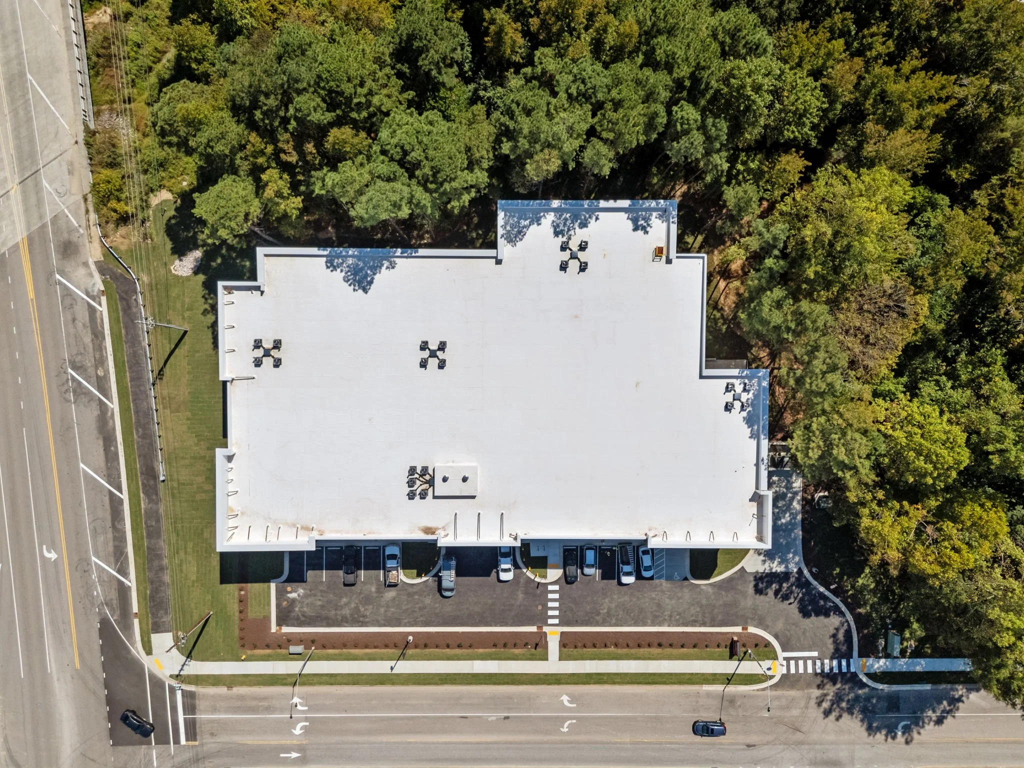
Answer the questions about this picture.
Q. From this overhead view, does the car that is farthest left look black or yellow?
black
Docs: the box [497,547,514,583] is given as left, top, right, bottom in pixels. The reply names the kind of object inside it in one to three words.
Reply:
vehicle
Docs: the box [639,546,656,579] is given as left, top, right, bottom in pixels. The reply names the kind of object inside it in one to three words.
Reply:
car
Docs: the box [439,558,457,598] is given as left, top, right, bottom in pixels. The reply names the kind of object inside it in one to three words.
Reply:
vehicle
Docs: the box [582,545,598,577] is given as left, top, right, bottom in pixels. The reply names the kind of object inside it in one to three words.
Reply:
car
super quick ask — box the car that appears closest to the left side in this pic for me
[117,712,153,739]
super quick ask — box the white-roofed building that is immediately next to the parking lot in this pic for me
[216,199,772,551]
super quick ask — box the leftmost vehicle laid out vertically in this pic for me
[340,546,357,586]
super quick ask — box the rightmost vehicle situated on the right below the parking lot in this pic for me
[693,722,728,741]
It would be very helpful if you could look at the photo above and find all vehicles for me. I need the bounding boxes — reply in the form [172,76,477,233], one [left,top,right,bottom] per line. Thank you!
[582,545,598,577]
[117,712,153,739]
[383,545,400,586]
[563,551,579,584]
[497,547,514,583]
[340,546,357,586]
[439,558,457,598]
[693,722,728,741]
[639,546,656,579]
[619,543,638,585]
